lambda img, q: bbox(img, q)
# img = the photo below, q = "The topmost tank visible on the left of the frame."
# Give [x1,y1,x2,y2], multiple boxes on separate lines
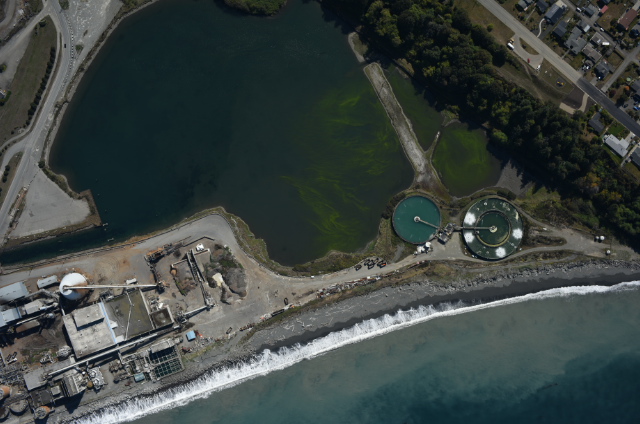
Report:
[57,272,90,302]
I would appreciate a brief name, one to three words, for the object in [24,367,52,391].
building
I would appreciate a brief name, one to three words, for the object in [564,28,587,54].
house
